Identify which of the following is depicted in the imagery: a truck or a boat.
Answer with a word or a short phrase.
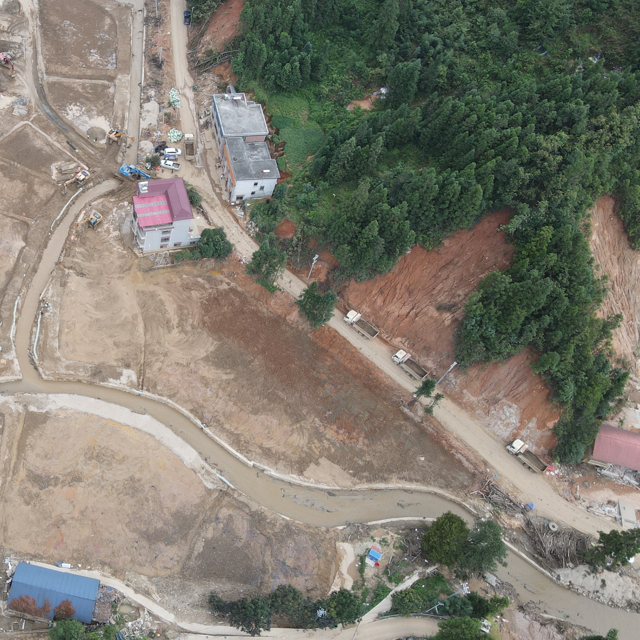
truck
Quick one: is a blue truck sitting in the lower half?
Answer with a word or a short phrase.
No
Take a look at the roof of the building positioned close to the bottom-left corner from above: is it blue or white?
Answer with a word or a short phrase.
blue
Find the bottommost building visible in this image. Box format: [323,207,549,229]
[10,562,117,627]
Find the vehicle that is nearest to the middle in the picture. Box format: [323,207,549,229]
[342,303,386,337]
